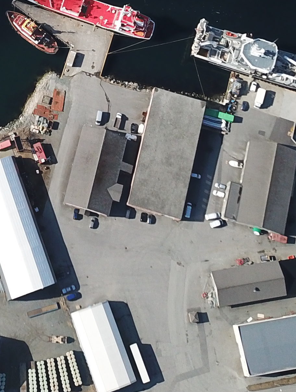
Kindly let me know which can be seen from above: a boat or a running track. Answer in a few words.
boat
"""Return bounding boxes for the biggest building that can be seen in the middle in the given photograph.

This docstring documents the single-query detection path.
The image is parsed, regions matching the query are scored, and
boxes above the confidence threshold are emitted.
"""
[124,88,206,222]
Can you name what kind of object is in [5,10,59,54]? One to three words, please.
boat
